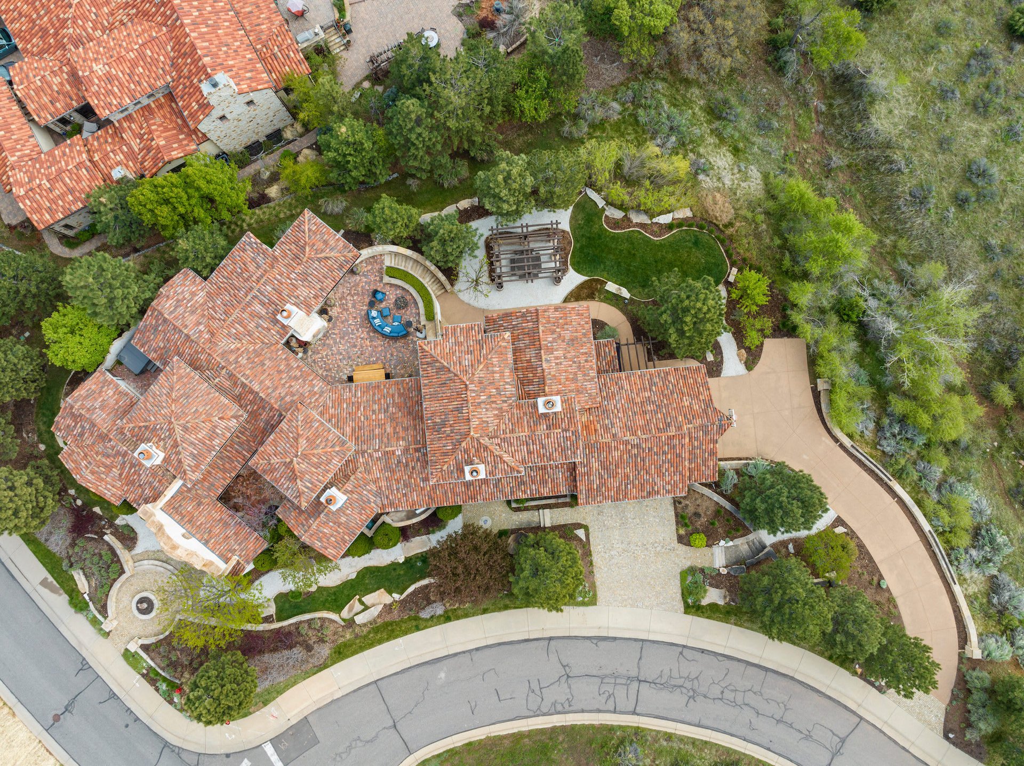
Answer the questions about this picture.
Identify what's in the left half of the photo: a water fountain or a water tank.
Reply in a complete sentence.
Visible in the left half of the photo is a water fountain.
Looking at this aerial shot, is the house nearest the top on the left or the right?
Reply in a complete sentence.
You can find the house nearest the top on the left side of the picture.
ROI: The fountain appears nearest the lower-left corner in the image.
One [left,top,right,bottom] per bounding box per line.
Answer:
[129,592,158,621]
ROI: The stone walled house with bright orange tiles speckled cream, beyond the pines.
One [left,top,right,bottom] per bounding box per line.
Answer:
[0,0,312,238]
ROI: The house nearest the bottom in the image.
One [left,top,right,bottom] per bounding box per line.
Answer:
[50,207,736,580]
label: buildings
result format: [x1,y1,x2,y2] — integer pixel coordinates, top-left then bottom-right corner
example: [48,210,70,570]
[50,207,736,580]
[0,0,312,238]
